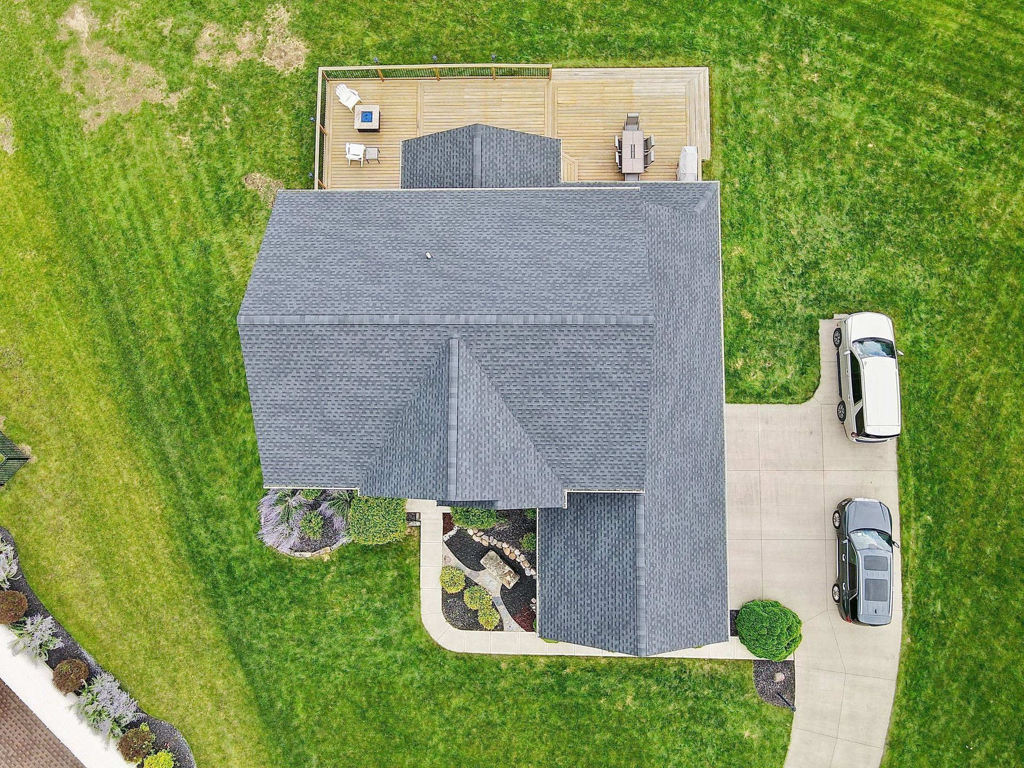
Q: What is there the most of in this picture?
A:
grass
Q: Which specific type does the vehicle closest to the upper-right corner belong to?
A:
car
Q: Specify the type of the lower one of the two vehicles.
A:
automobile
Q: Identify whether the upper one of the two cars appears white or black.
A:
white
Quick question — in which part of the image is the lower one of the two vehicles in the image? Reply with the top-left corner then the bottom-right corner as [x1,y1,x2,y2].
[832,497,899,625]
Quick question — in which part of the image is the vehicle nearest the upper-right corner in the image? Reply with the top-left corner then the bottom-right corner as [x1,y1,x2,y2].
[833,310,902,443]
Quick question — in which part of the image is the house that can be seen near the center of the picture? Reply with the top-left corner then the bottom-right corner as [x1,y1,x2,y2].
[238,124,730,657]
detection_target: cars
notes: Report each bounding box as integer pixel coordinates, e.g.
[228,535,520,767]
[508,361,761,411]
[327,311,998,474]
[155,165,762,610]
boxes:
[833,310,902,443]
[832,497,899,625]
